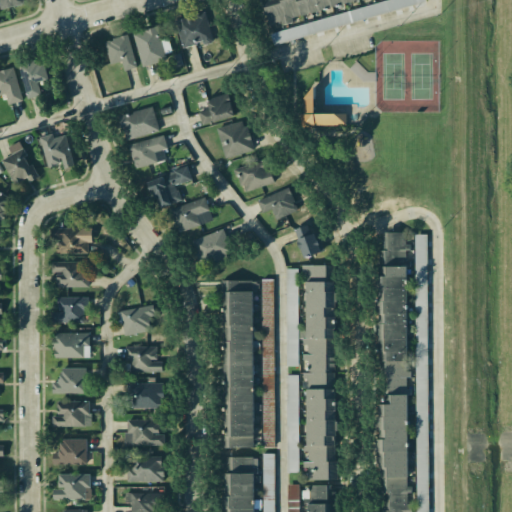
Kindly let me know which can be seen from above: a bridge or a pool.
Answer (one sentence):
I can see a pool in this picture.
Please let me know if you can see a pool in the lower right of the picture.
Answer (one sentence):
No, looking in the lower right of the picture, there is no pool.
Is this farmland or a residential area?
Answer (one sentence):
This image shows a residential area.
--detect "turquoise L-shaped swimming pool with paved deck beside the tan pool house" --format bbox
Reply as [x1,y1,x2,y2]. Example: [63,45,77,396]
[323,60,377,124]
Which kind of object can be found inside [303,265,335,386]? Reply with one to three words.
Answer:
building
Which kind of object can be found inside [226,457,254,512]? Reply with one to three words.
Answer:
building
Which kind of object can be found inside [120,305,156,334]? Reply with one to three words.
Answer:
house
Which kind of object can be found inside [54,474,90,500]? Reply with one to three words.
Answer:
house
